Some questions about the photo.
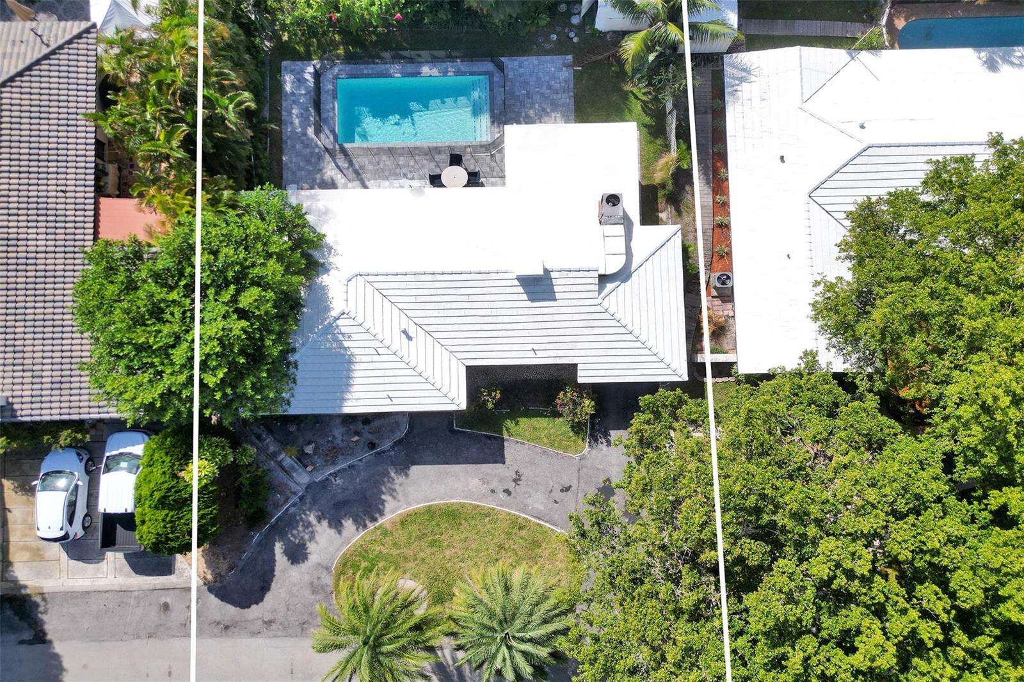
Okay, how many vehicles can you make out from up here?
2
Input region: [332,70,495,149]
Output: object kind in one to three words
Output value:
swimming pool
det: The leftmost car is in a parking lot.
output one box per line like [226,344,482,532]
[36,448,94,542]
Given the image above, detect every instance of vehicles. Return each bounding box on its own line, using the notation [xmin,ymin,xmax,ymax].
[94,430,150,554]
[36,448,94,542]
